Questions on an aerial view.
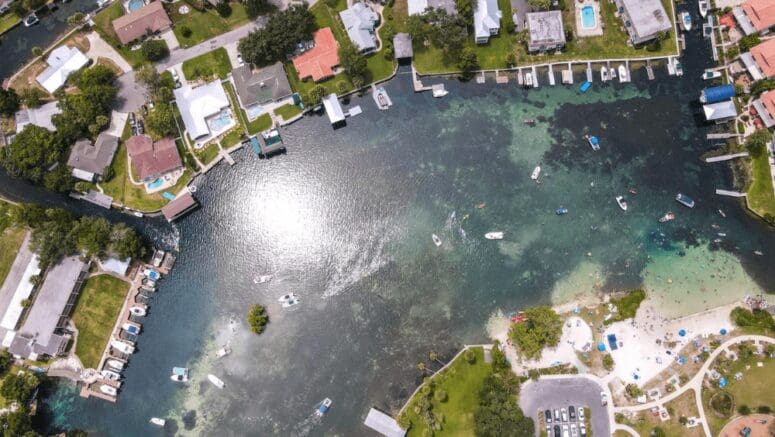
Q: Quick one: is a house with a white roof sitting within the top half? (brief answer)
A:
Yes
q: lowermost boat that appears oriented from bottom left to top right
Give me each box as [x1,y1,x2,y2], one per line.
[315,401,328,416]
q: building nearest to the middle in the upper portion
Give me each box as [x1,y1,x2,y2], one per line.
[322,93,345,125]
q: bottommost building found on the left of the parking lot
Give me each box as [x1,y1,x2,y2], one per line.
[363,404,403,437]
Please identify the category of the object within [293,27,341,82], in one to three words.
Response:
house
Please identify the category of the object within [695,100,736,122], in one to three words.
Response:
building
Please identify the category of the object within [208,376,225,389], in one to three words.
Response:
boat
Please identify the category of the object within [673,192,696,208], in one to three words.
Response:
boat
